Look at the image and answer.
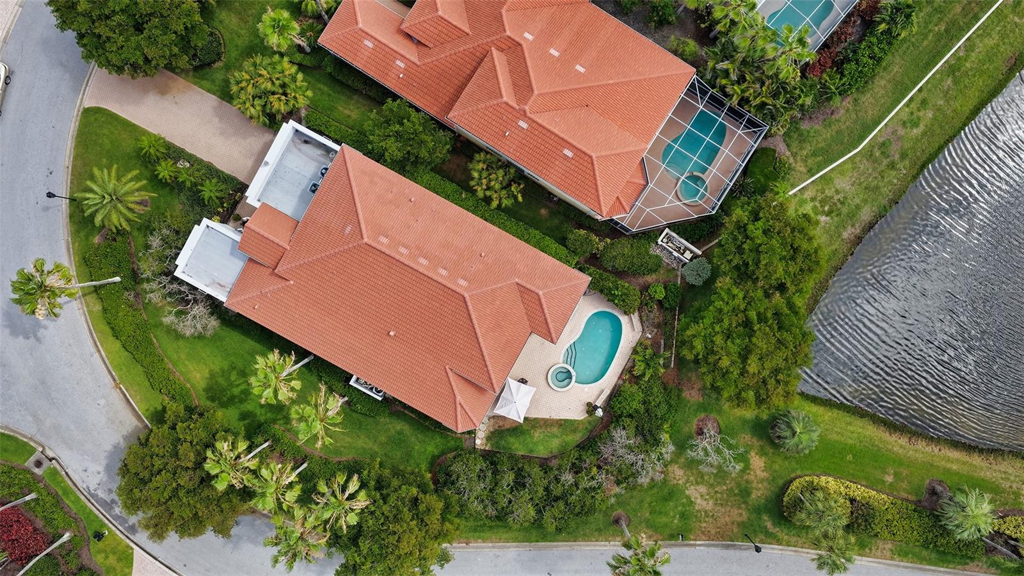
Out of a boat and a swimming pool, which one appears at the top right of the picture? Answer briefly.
swimming pool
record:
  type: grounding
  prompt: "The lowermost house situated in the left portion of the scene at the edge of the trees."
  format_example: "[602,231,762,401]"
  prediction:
[174,120,592,433]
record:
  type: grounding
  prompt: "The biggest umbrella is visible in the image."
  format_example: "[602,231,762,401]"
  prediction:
[494,378,536,423]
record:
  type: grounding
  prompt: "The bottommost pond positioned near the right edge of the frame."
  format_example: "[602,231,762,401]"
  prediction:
[798,76,1024,452]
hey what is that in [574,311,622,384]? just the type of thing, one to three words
swimming pool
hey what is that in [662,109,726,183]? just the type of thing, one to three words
swimming pool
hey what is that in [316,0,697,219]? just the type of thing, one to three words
house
